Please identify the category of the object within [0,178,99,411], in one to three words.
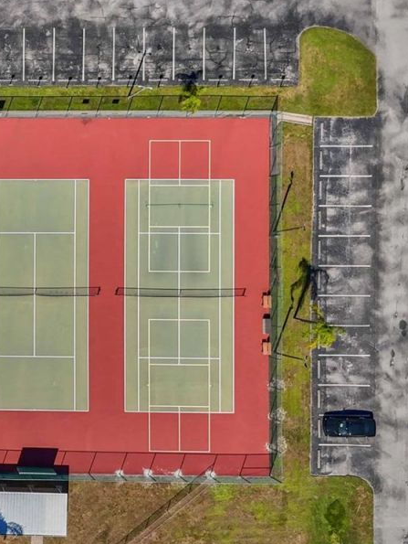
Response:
tennis court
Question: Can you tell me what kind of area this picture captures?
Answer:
sports ground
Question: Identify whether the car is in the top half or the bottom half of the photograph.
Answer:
bottom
